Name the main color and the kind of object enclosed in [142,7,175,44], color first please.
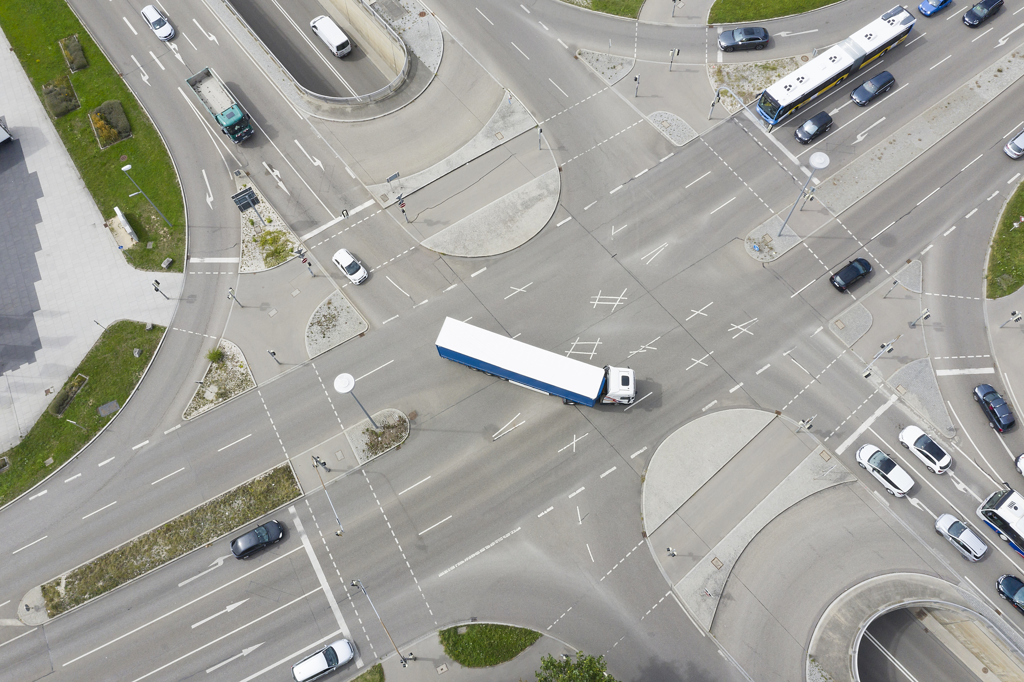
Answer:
white car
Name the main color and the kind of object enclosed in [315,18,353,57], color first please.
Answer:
white van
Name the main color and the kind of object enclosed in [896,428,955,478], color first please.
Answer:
white car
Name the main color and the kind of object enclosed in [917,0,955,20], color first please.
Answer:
blue car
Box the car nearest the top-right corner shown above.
[962,0,1007,32]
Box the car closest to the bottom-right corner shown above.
[992,577,1024,619]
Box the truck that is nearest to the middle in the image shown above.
[435,317,636,412]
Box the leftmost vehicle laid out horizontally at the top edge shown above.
[718,27,770,54]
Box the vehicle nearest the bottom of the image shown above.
[289,639,356,682]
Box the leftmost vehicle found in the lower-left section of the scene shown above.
[228,521,286,561]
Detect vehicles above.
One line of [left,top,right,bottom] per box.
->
[962,0,1007,32]
[992,577,1024,619]
[752,4,916,125]
[850,72,898,109]
[917,0,955,20]
[932,517,995,570]
[972,383,1024,438]
[185,66,257,145]
[853,449,915,502]
[828,262,876,297]
[228,521,286,561]
[1006,133,1024,159]
[315,18,353,57]
[794,111,838,147]
[142,7,175,44]
[289,639,356,682]
[435,317,636,412]
[718,27,770,54]
[896,428,955,478]
[333,250,368,288]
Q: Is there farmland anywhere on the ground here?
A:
No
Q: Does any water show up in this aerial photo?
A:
No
